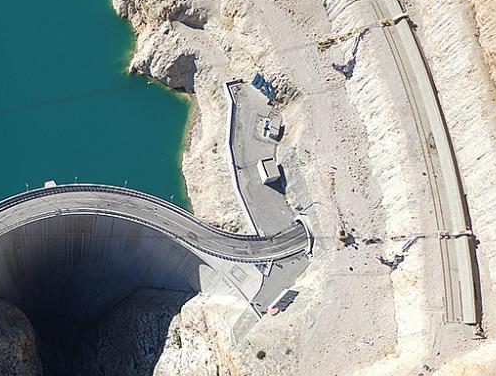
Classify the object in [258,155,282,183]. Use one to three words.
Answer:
building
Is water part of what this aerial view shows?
Yes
